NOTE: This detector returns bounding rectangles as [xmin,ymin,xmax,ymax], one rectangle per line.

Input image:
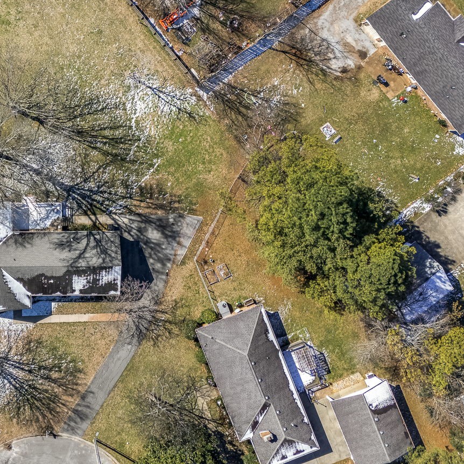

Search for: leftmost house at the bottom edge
[195,304,320,464]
